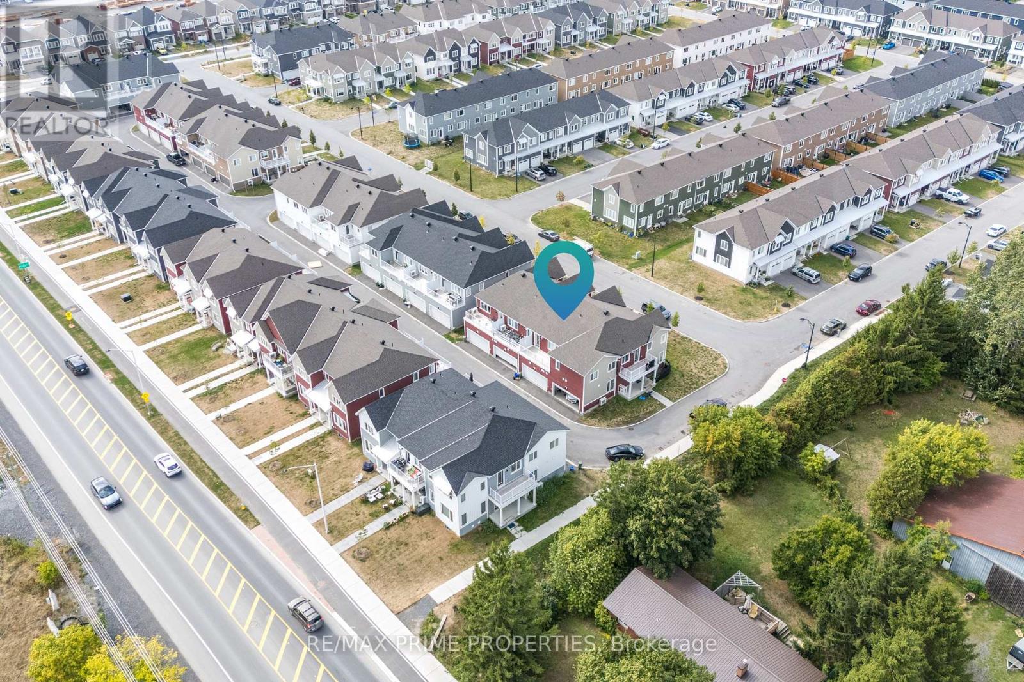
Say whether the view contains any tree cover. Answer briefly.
Yes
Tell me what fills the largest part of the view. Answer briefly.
buildings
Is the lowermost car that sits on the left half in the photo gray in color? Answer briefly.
Yes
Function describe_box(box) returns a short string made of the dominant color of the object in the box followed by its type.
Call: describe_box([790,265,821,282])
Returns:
gray car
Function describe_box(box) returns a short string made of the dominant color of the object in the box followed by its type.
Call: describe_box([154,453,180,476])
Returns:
white car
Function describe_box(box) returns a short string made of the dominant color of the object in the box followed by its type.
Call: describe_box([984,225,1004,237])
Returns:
white vehicle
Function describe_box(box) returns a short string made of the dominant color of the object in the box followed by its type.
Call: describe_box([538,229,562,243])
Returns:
gray car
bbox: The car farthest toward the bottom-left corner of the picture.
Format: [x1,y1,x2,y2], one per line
[94,479,123,509]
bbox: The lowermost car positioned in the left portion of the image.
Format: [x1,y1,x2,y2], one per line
[286,597,322,631]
